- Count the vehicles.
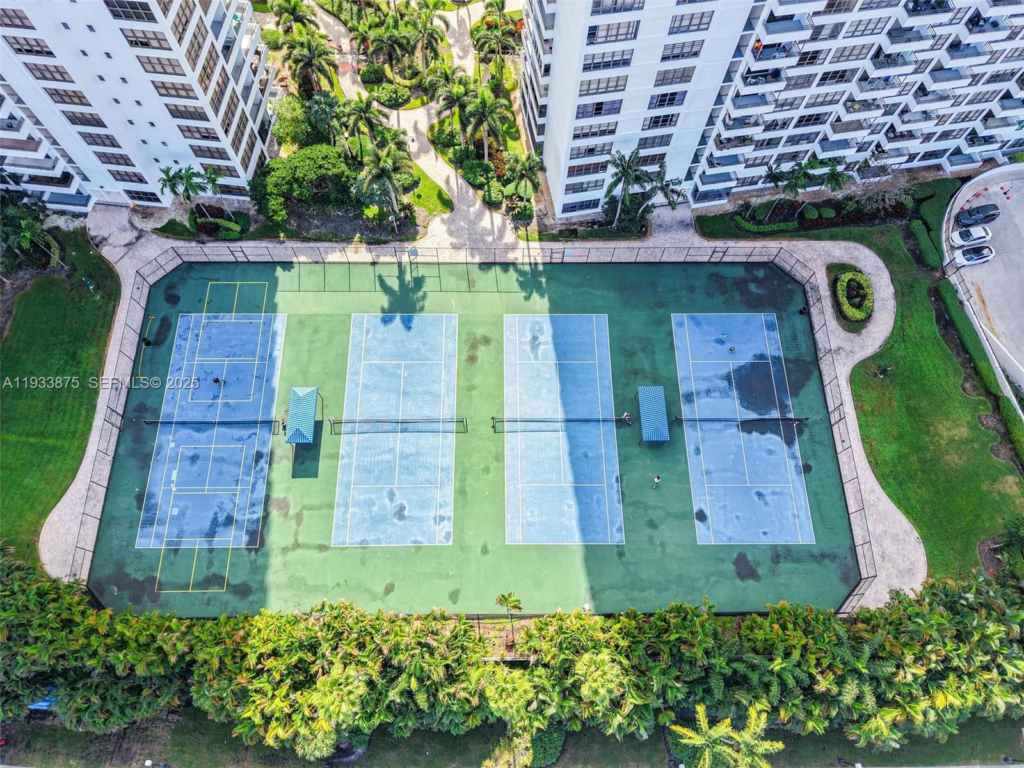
3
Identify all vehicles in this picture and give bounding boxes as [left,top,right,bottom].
[955,201,1003,231]
[952,245,997,271]
[951,228,993,252]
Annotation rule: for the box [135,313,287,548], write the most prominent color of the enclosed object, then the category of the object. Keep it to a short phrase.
blue tennis court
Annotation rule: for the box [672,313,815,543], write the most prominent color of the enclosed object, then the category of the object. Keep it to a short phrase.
blue tennis court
